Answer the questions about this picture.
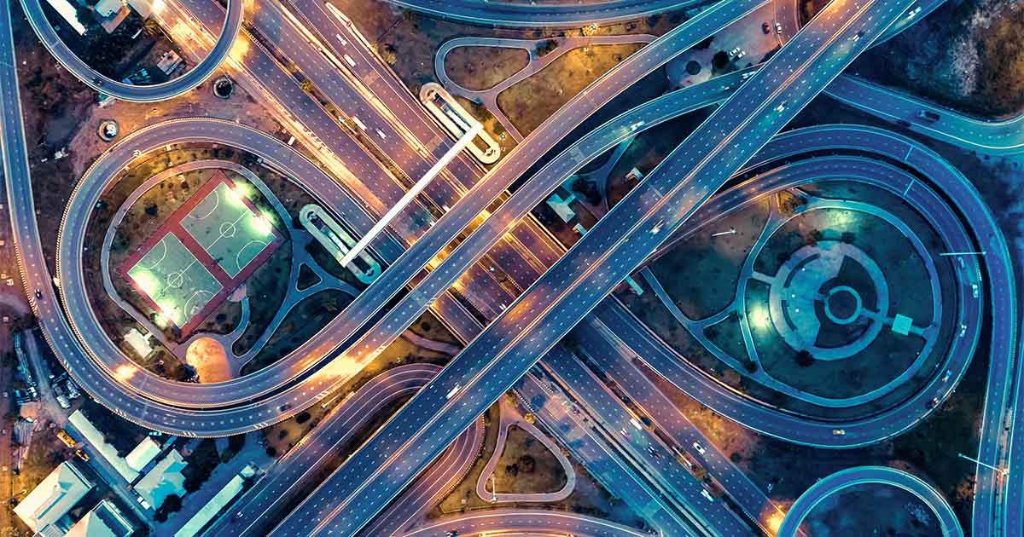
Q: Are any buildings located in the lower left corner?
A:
Yes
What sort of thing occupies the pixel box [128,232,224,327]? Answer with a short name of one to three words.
sports court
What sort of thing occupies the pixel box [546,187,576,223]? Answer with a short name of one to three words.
house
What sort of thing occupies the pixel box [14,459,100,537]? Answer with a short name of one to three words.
building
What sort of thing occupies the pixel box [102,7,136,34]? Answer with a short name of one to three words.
house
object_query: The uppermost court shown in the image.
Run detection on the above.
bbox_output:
[179,182,276,278]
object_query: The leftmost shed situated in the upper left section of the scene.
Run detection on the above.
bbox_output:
[51,0,90,38]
